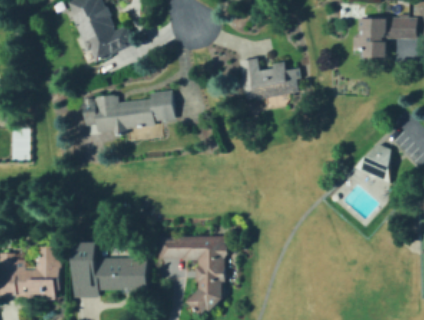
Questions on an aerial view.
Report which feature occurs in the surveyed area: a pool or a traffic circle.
pool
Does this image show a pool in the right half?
Yes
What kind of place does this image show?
residential area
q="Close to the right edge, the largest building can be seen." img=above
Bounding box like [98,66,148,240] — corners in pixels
[354,16,418,59]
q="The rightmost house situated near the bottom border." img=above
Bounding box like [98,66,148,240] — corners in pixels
[158,236,228,312]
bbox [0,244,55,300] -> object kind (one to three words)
house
